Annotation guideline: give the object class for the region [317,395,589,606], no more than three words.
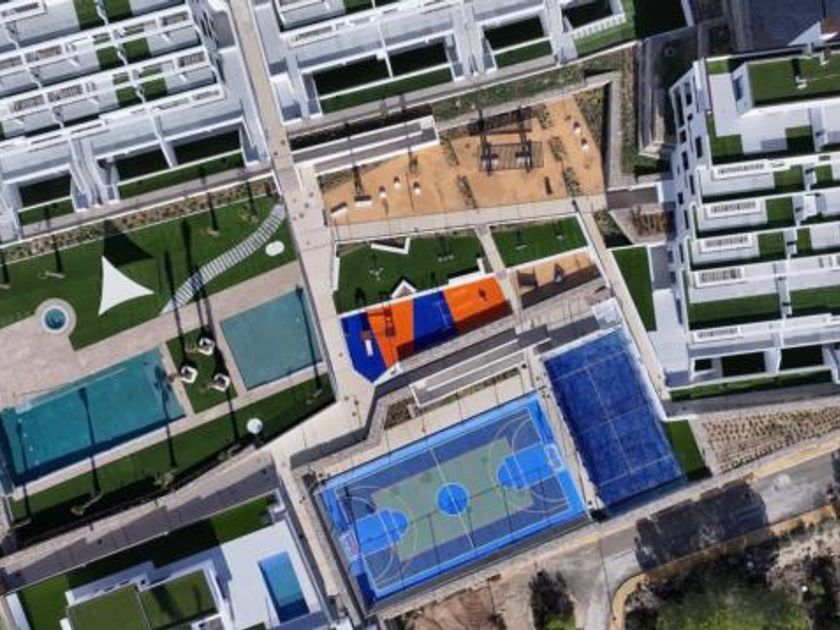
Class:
sports court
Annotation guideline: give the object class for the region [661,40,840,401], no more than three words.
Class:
building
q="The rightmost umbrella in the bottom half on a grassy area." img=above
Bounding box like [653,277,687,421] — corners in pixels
[245,417,261,433]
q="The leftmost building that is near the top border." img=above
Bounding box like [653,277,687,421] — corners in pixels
[0,0,249,230]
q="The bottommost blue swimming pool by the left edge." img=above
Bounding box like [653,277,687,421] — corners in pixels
[0,345,187,490]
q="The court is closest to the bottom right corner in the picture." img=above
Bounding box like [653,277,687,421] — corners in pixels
[545,329,690,514]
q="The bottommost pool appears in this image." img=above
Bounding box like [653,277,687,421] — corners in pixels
[257,548,312,622]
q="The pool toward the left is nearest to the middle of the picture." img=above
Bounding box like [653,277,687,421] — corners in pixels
[219,285,325,392]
